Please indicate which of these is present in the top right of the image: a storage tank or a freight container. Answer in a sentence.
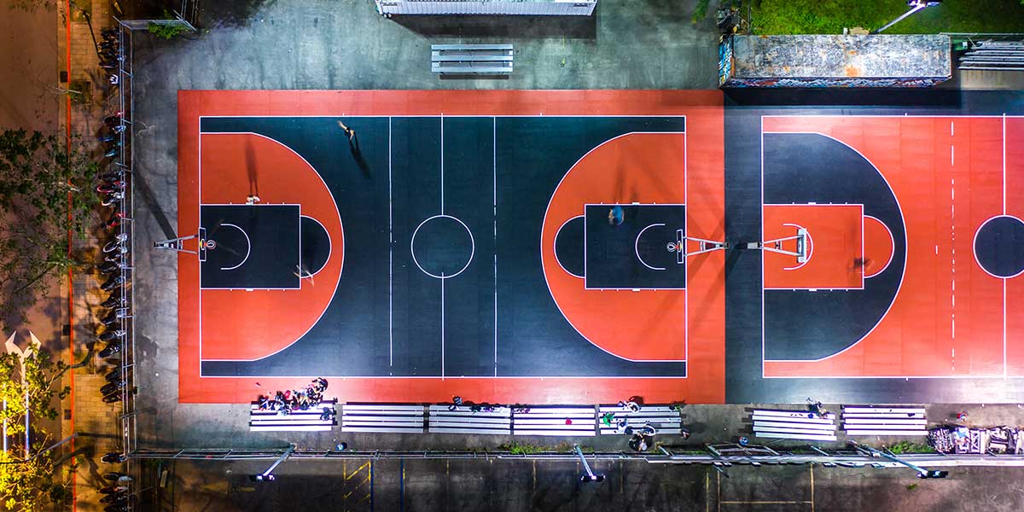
What appears in the top right of the image is a freight container.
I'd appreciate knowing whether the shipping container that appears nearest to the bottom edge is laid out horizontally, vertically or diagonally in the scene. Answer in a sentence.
The shipping container that appears nearest to the bottom edge runs horizontally in the image.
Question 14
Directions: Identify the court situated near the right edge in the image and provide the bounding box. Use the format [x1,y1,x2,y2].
[725,90,1024,404]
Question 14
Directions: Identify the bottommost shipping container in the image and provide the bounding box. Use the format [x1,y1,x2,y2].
[722,34,952,87]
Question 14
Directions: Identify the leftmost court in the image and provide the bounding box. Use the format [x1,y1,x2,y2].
[178,90,725,404]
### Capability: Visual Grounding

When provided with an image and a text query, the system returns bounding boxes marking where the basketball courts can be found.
[178,90,725,404]
[725,90,1024,404]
